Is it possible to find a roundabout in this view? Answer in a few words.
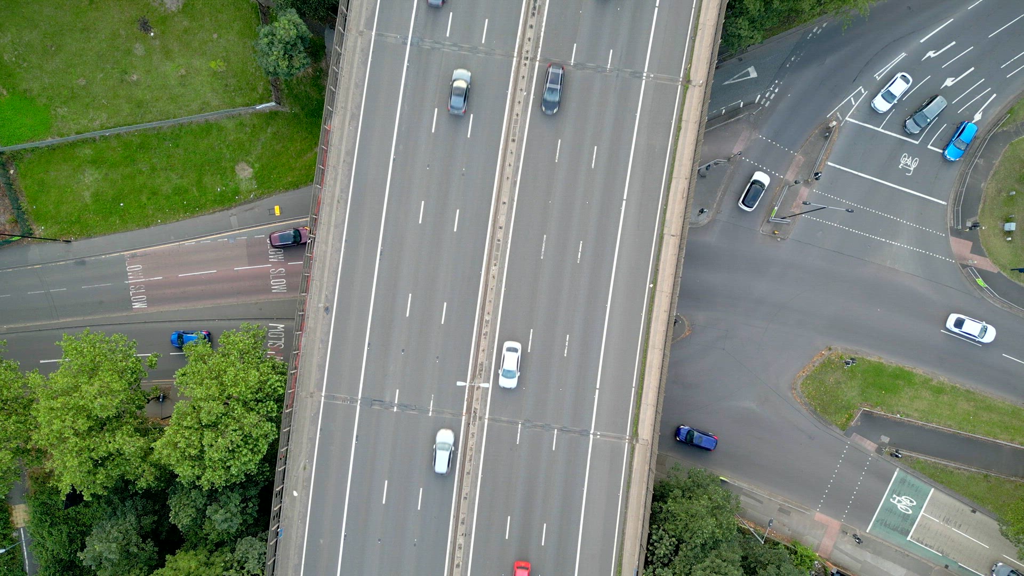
No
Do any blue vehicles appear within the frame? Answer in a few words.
Yes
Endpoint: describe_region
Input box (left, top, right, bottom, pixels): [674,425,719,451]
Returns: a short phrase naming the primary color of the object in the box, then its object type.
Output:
blue car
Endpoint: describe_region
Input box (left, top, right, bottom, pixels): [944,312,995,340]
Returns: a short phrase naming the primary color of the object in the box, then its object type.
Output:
white car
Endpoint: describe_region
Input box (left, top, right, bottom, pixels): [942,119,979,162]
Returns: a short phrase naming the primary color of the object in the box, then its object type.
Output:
blue car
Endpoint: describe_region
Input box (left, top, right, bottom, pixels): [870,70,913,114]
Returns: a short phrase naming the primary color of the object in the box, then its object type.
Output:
white car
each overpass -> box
[275,0,722,576]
